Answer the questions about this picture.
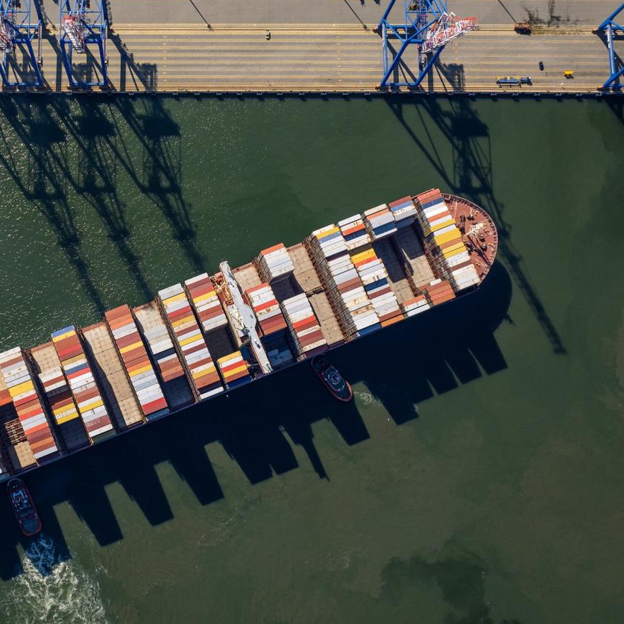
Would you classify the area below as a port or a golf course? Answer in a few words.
port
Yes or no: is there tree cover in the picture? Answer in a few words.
No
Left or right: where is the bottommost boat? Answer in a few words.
left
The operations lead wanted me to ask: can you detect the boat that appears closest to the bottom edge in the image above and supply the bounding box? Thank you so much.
[8,477,41,539]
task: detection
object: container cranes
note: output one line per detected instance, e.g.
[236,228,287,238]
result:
[590,4,624,88]
[371,0,487,88]
[0,0,53,87]
[53,0,116,87]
